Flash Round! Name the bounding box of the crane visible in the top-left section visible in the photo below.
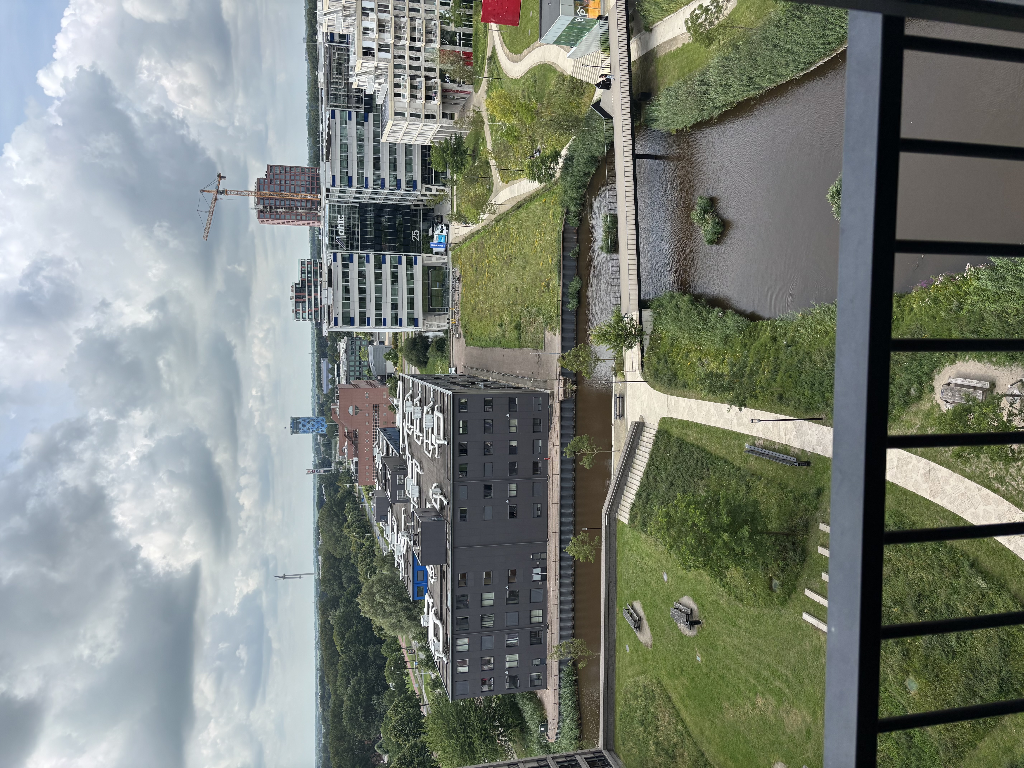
[198,173,321,241]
